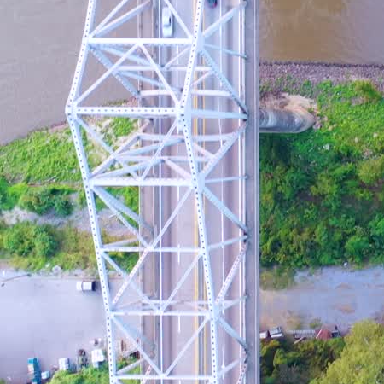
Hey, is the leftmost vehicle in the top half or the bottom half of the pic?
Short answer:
bottom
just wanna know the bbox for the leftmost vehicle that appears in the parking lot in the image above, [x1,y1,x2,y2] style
[20,355,41,384]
